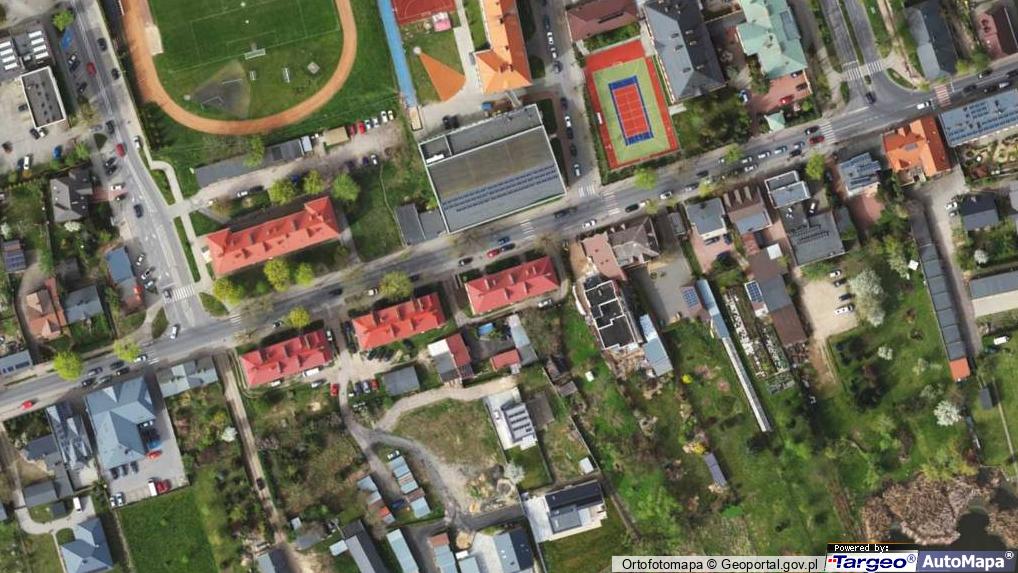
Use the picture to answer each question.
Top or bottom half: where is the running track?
top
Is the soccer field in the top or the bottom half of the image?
top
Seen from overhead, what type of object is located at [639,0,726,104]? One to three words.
building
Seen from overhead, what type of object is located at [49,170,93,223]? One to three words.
house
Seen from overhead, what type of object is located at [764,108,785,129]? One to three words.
gazebo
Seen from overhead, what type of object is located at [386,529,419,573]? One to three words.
barn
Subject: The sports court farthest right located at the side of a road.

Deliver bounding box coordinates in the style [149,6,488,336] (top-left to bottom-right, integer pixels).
[586,40,679,169]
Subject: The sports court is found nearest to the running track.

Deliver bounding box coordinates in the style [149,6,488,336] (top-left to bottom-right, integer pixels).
[394,0,456,25]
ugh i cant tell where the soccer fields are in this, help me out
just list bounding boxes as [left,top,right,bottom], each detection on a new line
[150,0,339,72]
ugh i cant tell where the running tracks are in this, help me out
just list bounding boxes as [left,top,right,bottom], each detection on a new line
[122,0,358,135]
